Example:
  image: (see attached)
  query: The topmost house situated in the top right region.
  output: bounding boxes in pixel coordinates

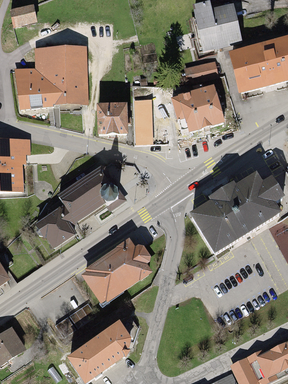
[191,0,242,54]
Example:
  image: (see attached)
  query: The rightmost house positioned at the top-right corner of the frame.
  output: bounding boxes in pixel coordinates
[229,36,288,95]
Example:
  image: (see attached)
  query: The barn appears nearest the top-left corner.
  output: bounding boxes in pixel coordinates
[10,4,38,30]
